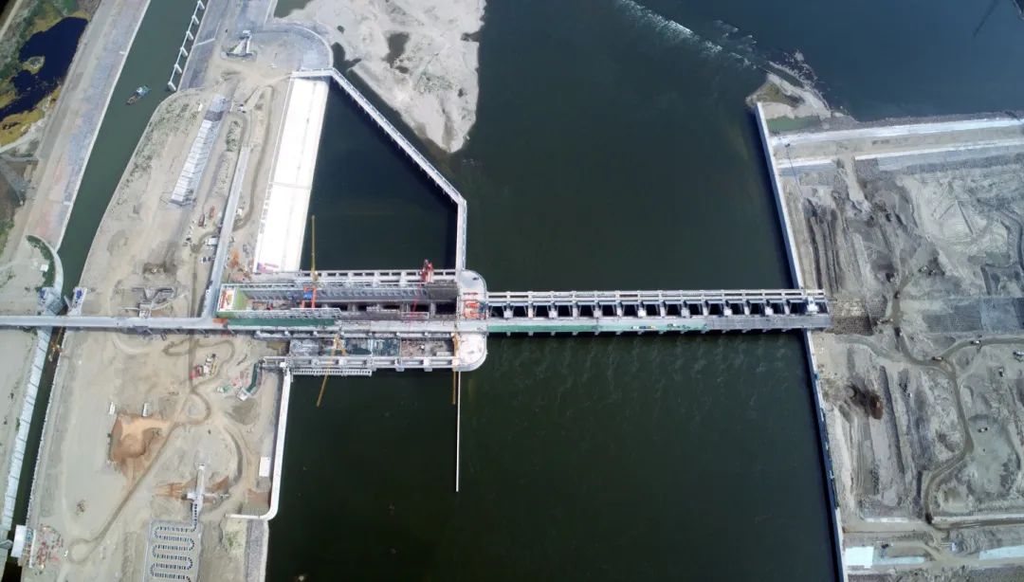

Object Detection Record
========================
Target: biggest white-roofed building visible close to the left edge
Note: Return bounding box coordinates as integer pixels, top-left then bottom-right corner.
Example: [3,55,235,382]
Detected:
[9,525,34,559]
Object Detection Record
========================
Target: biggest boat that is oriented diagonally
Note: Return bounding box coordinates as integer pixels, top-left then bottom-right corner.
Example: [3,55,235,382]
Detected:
[126,85,148,102]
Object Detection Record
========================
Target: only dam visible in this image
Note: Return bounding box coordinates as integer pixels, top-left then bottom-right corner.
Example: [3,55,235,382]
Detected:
[488,288,828,339]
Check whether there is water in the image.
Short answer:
Yes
